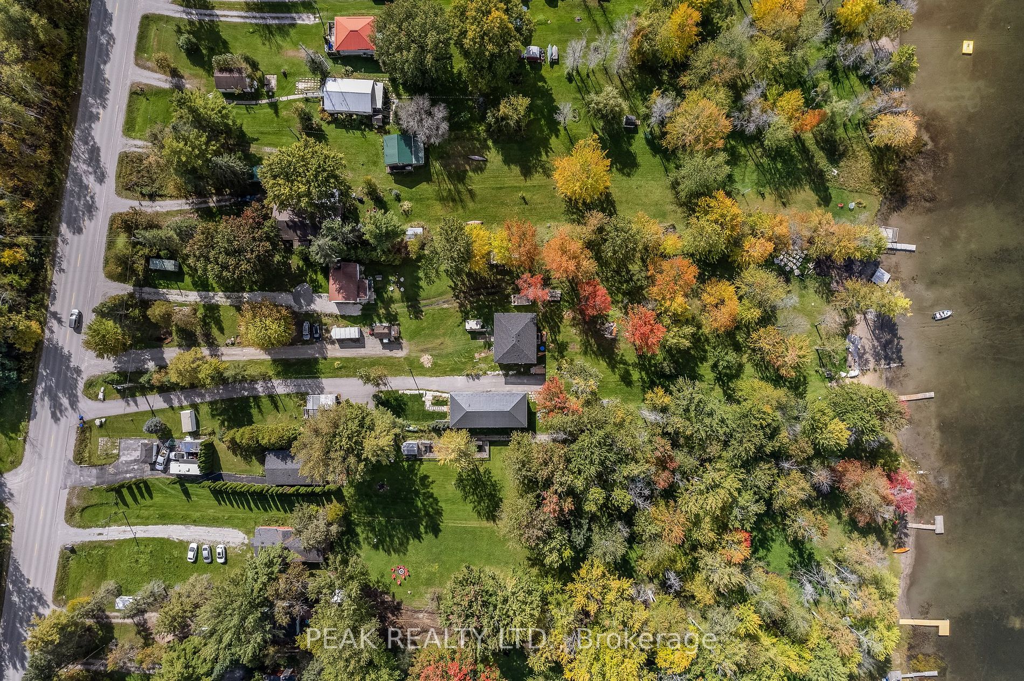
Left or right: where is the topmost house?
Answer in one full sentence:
It is on the left.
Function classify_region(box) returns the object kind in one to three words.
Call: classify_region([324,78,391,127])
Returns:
house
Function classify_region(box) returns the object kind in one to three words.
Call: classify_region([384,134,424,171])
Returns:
building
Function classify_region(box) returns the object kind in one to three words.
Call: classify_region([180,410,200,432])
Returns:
shed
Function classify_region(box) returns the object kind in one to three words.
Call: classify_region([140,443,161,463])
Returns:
shed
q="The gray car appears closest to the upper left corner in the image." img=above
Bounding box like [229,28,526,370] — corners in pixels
[68,308,81,328]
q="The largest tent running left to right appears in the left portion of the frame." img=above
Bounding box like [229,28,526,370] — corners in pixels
[331,327,362,339]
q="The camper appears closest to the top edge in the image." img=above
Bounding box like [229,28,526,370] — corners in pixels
[522,46,541,60]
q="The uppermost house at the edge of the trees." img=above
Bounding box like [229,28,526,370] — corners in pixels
[327,16,377,55]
